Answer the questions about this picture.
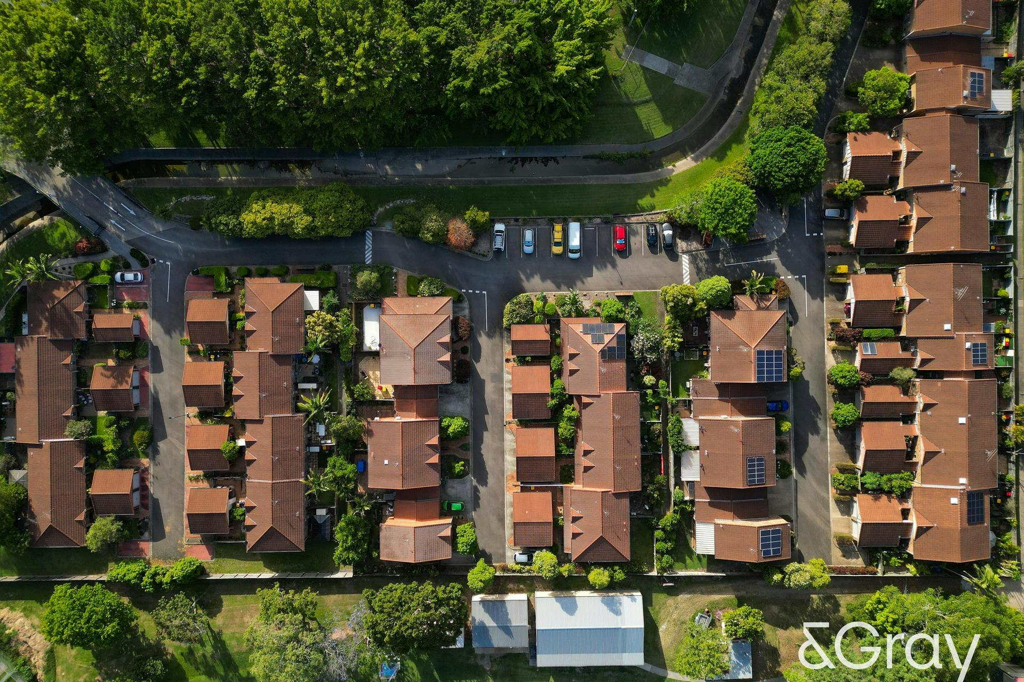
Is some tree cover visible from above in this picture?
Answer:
Yes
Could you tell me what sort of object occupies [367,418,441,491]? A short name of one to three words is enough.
house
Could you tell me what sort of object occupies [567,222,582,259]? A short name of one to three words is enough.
vehicle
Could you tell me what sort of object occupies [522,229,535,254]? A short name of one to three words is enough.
vehicle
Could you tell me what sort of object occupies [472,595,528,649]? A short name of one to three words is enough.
shed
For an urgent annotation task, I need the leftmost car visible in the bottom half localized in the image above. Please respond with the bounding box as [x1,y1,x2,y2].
[442,500,465,512]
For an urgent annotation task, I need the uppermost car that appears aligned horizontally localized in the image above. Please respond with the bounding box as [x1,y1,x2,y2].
[822,207,849,220]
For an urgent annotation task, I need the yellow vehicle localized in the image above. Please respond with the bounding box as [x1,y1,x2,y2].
[551,222,564,255]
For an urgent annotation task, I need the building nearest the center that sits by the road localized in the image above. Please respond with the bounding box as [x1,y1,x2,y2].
[510,324,551,356]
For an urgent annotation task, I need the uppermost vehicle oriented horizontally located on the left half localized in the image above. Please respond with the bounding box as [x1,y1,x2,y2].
[115,271,144,283]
